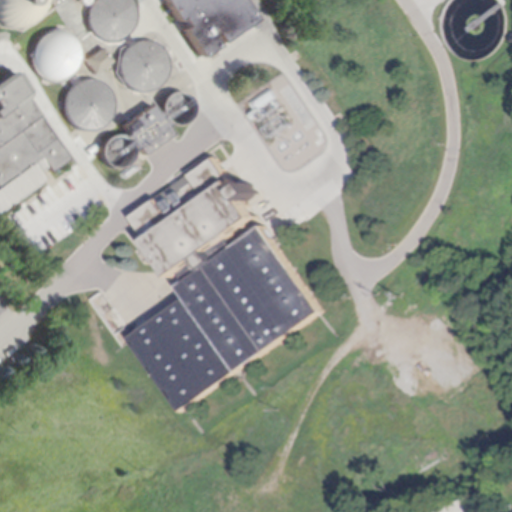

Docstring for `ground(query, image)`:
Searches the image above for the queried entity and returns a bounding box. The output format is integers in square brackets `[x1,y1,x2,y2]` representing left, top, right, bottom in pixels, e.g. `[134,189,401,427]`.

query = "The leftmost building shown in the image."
[0,74,75,214]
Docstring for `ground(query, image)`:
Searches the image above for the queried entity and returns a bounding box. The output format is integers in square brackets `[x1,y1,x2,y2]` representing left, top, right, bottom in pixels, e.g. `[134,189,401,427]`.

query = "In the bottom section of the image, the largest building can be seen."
[122,230,314,408]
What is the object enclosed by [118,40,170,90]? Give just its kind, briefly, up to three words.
storage tank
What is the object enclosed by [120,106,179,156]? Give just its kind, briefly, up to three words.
building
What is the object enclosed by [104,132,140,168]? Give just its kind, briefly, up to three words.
storage tank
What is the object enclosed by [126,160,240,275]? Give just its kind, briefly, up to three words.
building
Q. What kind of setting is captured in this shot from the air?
industrial area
